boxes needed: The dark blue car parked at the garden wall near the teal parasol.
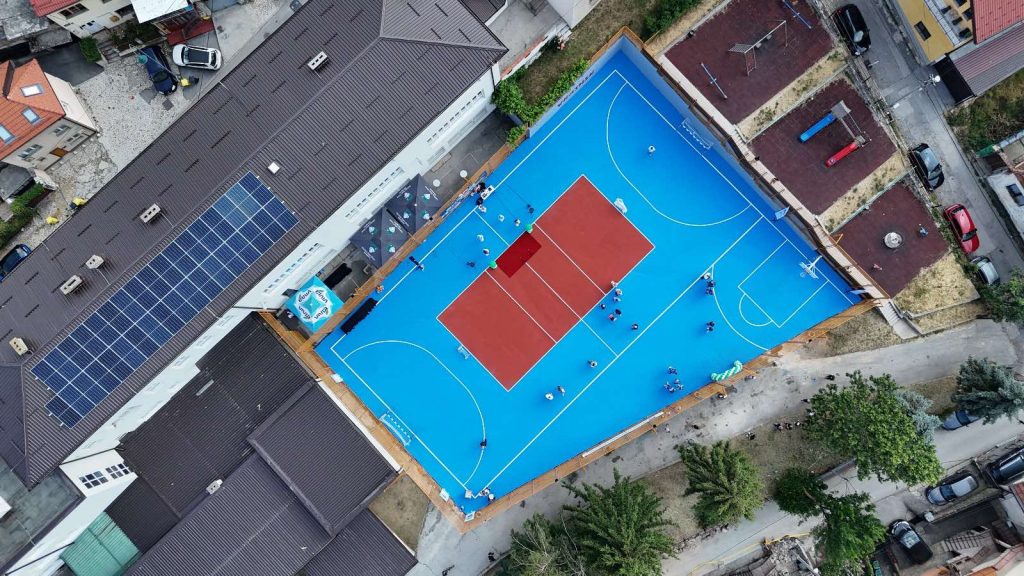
[141,47,179,99]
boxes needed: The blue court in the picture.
[315,50,863,513]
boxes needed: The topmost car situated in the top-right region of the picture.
[833,0,874,60]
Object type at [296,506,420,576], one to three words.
building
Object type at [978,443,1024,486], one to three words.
car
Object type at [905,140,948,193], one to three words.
car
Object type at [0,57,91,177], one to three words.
house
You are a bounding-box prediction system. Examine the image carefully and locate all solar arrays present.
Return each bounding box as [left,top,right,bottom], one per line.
[31,171,298,430]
